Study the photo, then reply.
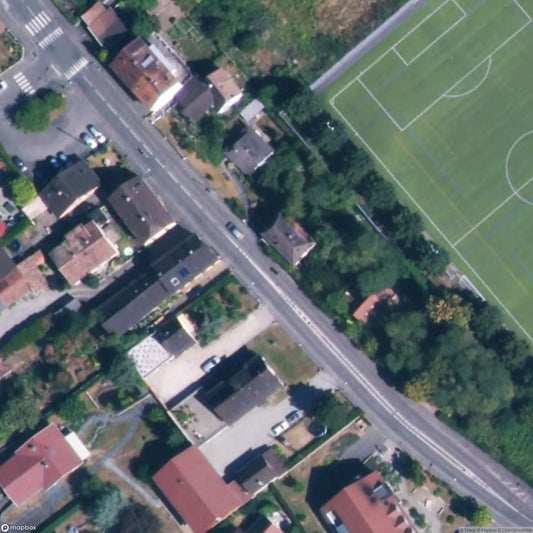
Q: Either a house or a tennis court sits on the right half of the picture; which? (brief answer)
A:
house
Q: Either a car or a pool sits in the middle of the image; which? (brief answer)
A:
car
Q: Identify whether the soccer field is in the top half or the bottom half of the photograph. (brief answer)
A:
top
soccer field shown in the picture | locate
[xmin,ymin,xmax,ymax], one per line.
[314,0,533,361]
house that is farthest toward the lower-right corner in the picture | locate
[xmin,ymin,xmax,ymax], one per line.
[321,471,416,533]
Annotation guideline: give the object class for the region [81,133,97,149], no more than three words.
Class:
car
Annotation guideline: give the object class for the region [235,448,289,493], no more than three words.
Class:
shed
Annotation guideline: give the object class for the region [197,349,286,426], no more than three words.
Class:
house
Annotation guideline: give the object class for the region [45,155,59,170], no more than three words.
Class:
vehicle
